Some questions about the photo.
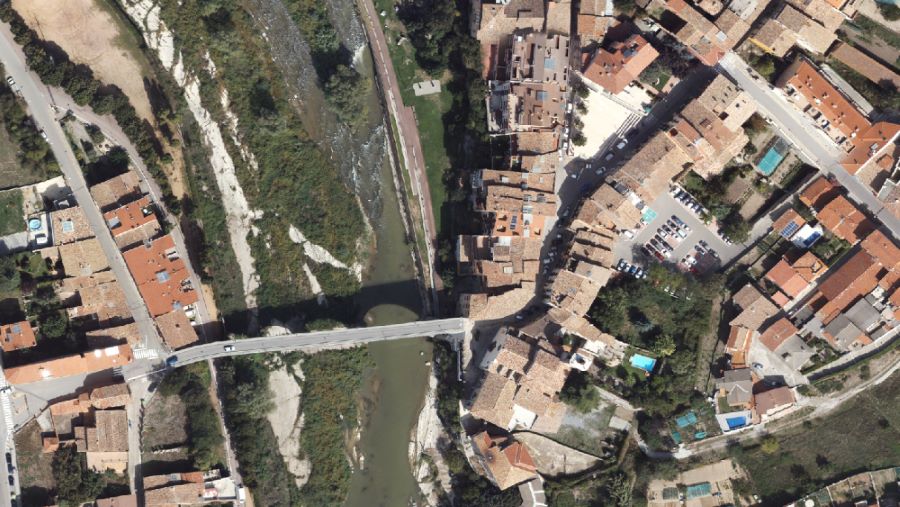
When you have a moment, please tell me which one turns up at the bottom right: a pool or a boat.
pool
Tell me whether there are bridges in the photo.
Yes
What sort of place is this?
residential area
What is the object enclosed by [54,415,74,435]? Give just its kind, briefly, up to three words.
shed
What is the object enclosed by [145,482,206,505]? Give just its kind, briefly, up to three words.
house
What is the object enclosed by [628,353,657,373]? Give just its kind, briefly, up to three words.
swimming pool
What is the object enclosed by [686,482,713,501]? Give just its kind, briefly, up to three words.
swimming pool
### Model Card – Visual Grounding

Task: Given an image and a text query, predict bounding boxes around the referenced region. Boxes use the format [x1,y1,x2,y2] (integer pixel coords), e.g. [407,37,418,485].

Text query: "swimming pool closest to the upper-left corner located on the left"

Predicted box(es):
[28,213,49,245]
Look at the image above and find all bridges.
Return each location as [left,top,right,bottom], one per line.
[195,316,467,362]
